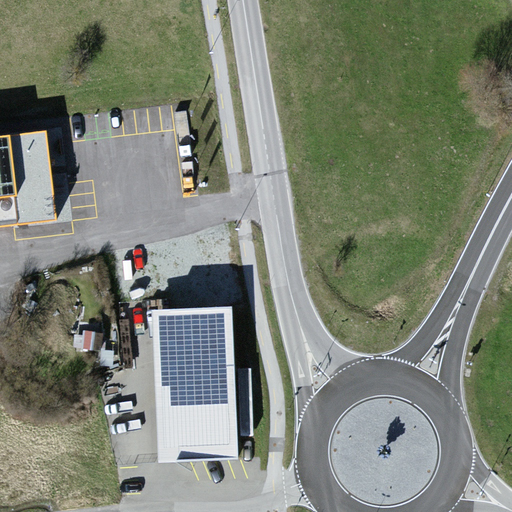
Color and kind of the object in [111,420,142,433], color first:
white vehicle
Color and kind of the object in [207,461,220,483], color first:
gray vehicle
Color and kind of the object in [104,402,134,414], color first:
white vehicle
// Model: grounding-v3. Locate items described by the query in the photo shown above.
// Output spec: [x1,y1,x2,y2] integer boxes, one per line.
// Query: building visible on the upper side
[0,130,56,226]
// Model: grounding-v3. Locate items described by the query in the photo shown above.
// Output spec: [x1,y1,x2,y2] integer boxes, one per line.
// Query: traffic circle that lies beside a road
[295,356,475,512]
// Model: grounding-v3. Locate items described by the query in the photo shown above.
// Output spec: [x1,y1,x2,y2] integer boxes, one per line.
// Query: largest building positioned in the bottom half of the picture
[152,306,238,464]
